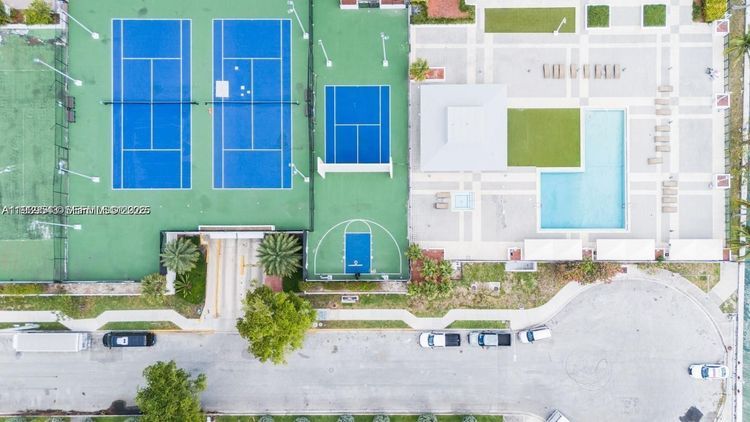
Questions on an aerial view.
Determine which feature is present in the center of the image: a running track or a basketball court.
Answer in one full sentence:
The feature located in the center of the image is a basketball court.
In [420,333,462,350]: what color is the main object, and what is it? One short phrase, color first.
white vehicle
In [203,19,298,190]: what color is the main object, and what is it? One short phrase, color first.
blue tennis court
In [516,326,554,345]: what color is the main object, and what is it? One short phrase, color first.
white car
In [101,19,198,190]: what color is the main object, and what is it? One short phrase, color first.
blue tennis court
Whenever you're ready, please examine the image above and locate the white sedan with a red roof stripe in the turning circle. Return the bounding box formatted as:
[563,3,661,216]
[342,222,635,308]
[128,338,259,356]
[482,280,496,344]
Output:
[688,363,727,380]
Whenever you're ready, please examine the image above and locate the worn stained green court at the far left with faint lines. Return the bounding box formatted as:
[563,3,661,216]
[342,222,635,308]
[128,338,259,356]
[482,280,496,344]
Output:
[0,29,64,281]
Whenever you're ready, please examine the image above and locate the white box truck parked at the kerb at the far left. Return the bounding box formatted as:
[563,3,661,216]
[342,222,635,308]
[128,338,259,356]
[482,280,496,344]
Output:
[13,330,97,353]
